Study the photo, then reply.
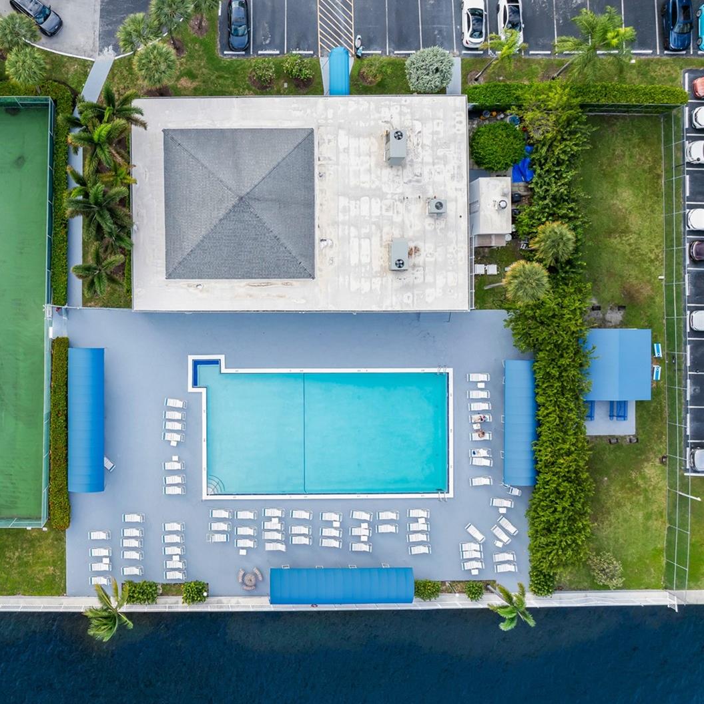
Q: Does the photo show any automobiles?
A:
Yes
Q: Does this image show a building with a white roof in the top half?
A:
Yes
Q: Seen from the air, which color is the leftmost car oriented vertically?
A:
blue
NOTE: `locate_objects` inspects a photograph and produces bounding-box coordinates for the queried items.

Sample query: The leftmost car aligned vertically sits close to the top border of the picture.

[225,0,251,53]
